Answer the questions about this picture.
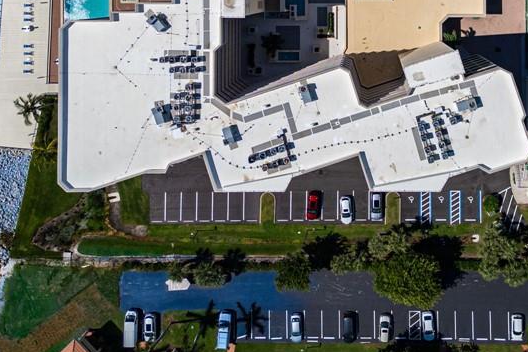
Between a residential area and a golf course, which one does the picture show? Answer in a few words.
residential area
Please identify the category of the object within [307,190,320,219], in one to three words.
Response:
vehicle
